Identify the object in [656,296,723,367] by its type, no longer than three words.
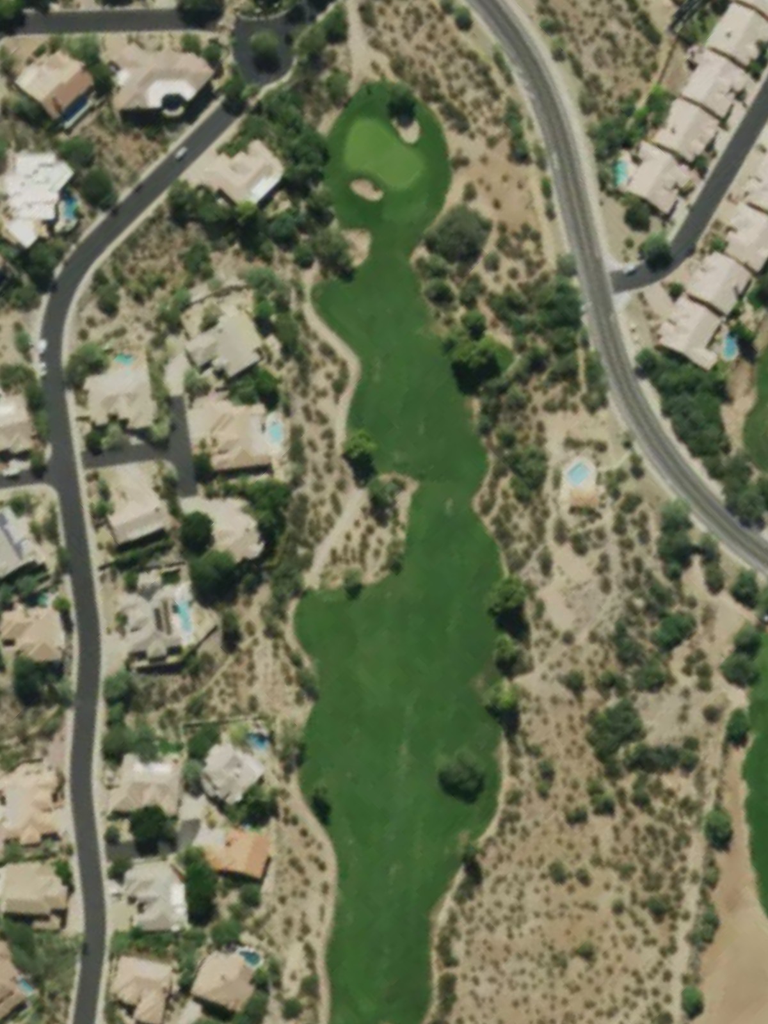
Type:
house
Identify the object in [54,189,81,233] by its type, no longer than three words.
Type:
swimming pool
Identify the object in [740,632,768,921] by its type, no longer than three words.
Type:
golf course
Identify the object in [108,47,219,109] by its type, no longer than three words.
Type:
house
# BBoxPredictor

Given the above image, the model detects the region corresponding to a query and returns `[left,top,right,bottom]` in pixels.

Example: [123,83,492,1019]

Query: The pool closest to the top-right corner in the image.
[611,154,634,190]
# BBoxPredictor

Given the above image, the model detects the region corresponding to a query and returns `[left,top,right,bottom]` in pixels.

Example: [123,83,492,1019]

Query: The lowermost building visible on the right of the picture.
[572,491,599,508]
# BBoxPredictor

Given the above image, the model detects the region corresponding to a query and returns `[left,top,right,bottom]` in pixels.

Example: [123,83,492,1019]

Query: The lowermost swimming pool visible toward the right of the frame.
[563,455,596,494]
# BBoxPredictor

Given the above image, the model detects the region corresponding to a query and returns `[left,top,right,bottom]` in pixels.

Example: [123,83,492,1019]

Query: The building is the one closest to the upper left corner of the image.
[20,49,92,120]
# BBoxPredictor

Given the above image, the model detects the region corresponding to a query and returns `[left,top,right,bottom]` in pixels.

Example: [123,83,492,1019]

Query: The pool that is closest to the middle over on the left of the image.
[267,410,286,450]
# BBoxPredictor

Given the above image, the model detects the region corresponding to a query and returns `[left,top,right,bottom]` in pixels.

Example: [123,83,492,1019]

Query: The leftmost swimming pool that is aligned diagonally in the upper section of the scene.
[63,95,97,127]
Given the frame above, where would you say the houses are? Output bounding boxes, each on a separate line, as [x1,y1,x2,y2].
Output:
[0,503,47,570]
[751,164,768,209]
[706,0,768,68]
[185,313,262,372]
[190,403,271,472]
[0,770,63,845]
[656,296,723,367]
[108,47,219,109]
[84,370,160,430]
[5,152,75,243]
[0,940,31,1018]
[204,827,268,879]
[192,945,255,1013]
[3,603,65,661]
[106,463,172,542]
[623,143,692,212]
[720,203,768,273]
[649,94,719,164]
[198,742,266,804]
[203,495,265,560]
[113,956,173,1024]
[20,49,92,120]
[688,250,756,319]
[122,588,182,658]
[204,139,283,203]
[680,47,750,116]
[107,755,186,821]
[0,393,39,453]
[126,862,187,931]
[2,861,67,912]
